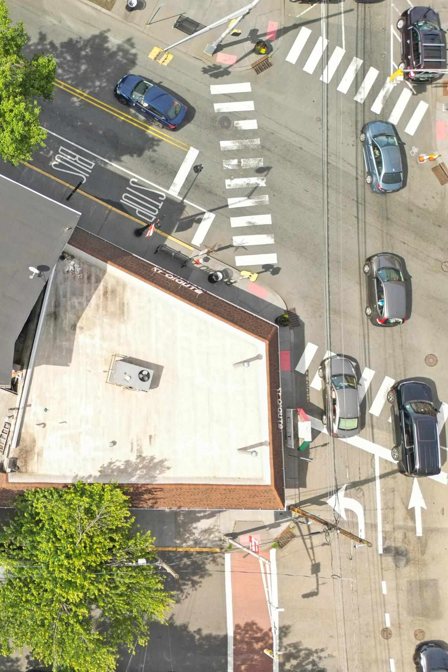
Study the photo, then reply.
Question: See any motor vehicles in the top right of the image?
Yes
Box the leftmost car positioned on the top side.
[113,76,191,132]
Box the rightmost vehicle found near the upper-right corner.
[398,7,447,84]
